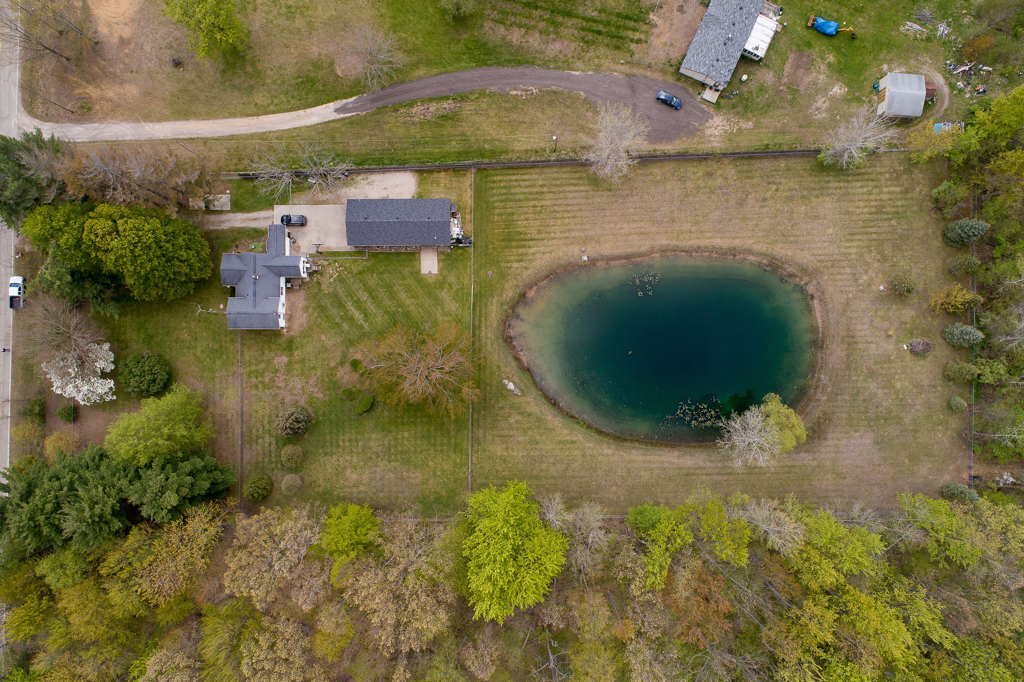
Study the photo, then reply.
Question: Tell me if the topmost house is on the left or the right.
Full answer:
You can find the topmost house on the right side of the picture.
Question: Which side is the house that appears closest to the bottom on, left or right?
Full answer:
The house that appears closest to the bottom sits on the left side.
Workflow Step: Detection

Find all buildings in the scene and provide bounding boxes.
[678,0,766,90]
[221,224,307,329]
[345,198,450,246]
[878,72,927,120]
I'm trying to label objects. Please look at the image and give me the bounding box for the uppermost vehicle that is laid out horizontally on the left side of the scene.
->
[279,212,307,226]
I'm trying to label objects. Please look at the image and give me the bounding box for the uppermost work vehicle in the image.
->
[807,13,855,42]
